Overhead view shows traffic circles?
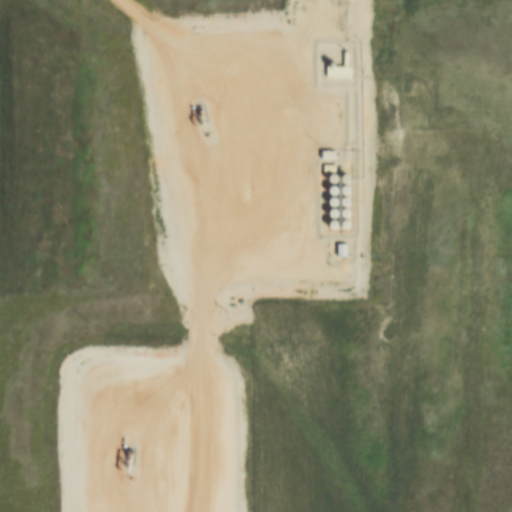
No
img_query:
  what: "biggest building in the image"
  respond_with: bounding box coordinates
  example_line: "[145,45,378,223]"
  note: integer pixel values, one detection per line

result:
[330,50,352,78]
